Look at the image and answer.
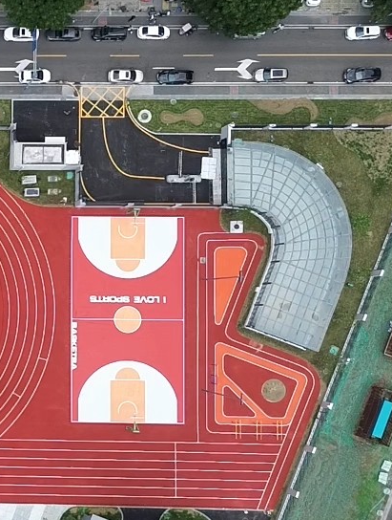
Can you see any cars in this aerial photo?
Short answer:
Yes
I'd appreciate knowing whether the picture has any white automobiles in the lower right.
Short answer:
No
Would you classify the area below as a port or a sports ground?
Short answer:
sports ground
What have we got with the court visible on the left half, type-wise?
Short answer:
basketball court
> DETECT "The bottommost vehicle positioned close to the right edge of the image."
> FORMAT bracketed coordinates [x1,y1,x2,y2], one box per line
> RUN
[342,67,380,85]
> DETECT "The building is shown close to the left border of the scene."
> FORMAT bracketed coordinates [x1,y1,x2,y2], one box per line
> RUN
[8,123,83,205]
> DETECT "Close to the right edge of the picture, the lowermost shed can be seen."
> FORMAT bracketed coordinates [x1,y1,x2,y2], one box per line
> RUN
[353,384,392,446]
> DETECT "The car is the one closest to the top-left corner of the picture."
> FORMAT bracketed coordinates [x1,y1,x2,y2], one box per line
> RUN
[0,26,37,44]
